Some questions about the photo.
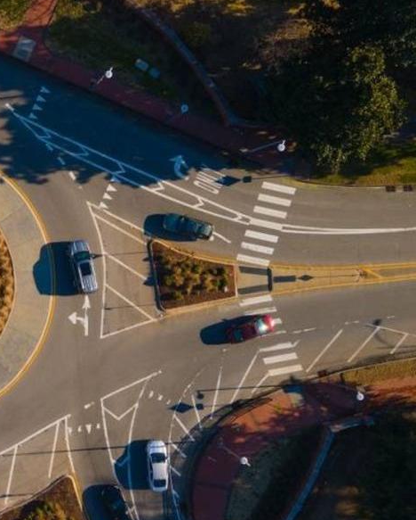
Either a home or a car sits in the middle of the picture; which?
car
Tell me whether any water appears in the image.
No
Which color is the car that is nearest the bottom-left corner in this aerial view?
black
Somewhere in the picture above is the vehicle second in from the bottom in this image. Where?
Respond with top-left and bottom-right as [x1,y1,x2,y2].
[143,439,170,492]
